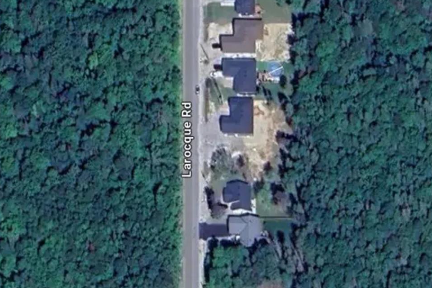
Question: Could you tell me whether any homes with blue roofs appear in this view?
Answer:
Yes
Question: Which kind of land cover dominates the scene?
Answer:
trees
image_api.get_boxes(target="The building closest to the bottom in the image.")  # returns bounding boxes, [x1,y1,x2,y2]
[229,214,262,246]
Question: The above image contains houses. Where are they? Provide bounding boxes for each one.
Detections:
[235,0,255,16]
[222,20,262,54]
[229,214,262,246]
[221,98,253,135]
[222,59,256,94]
[221,180,251,210]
